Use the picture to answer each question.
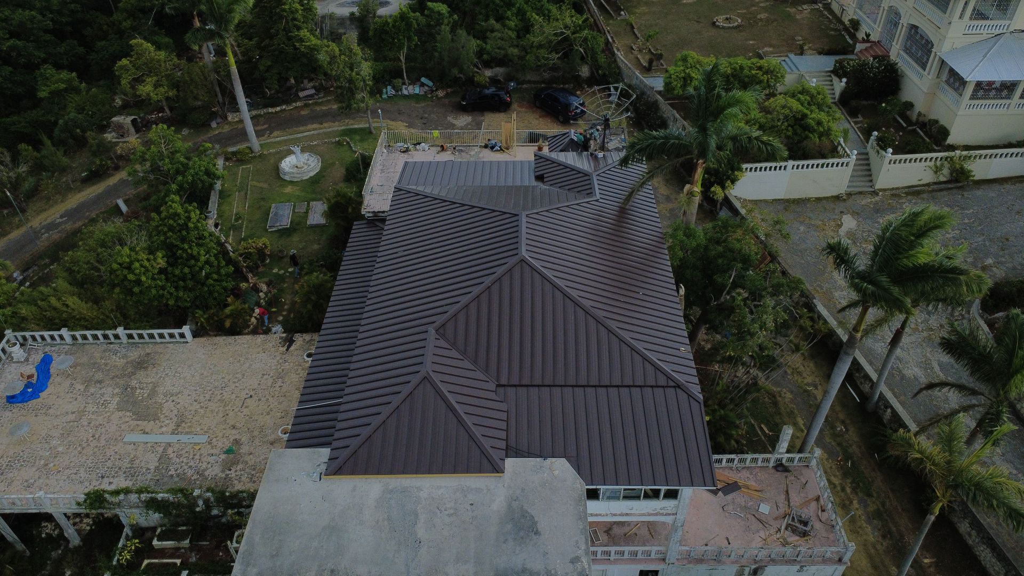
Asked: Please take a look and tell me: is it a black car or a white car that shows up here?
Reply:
black car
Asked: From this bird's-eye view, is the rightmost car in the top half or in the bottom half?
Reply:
top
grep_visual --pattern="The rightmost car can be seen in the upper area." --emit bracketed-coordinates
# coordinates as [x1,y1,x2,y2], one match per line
[534,86,588,123]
